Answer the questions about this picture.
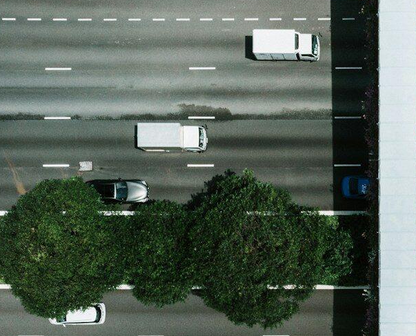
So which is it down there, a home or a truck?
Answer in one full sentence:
The one in the frame is a truck.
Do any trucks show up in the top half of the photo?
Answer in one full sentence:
Yes, a truck shows up in the top half of the photo.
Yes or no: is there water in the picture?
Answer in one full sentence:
No, the picture contains no water.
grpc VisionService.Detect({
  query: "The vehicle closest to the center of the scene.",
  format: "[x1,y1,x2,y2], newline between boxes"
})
[135,122,210,152]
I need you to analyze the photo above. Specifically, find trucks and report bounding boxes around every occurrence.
[252,26,322,58]
[135,122,210,152]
